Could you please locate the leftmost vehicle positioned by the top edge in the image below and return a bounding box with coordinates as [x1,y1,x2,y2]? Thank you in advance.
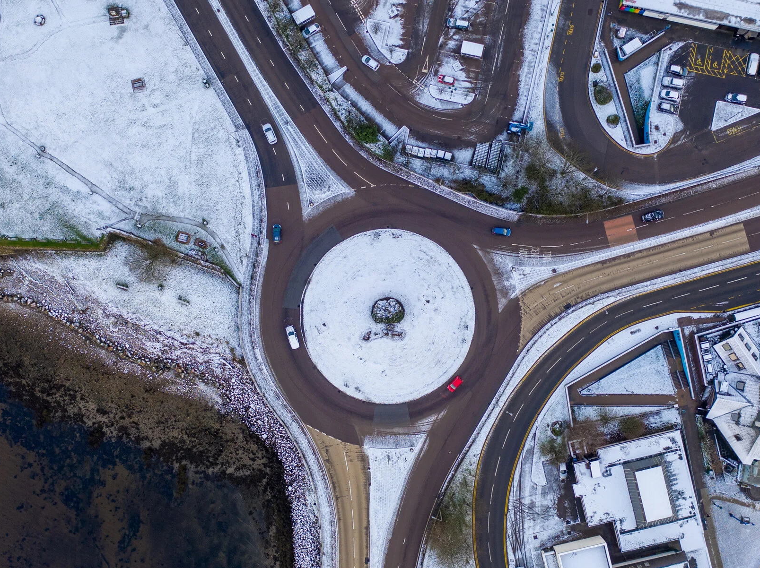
[303,23,321,37]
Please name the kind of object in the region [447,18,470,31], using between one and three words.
vehicle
